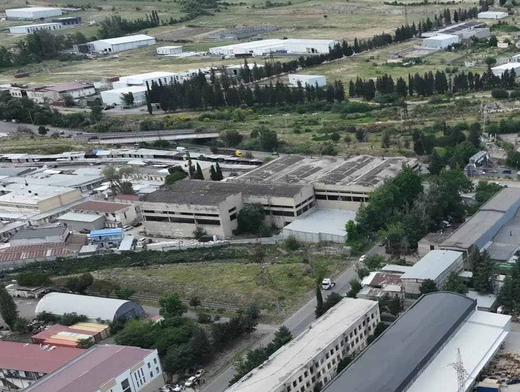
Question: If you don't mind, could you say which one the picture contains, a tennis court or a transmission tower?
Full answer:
The image shows a transmission tower.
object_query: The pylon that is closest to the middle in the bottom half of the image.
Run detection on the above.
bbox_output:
[240,212,273,285]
